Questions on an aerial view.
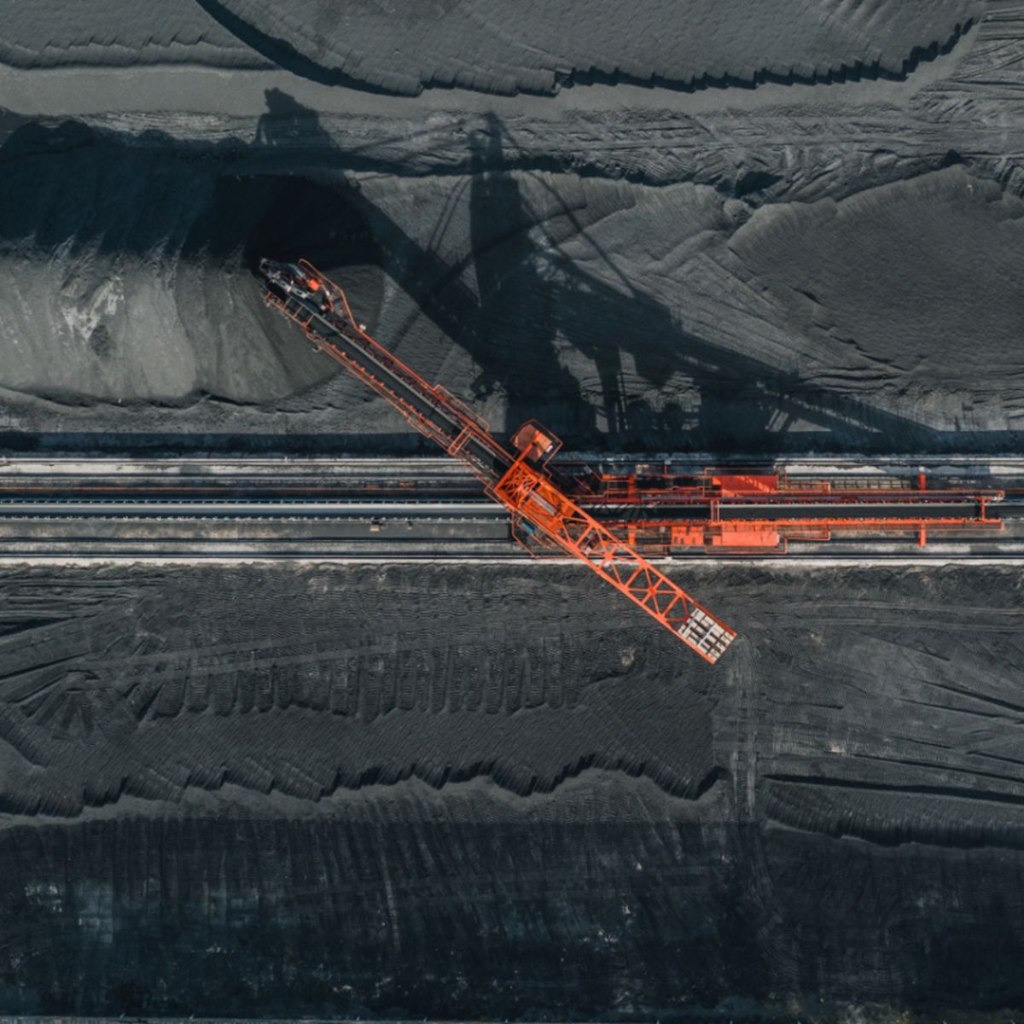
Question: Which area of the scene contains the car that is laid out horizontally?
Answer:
right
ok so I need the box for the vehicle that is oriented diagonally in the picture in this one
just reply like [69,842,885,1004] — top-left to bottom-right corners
[261,258,735,668]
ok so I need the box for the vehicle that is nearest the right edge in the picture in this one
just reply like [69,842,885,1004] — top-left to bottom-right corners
[566,460,1024,558]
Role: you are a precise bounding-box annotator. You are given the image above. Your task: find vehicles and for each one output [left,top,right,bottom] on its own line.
[566,460,1024,558]
[261,258,735,668]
